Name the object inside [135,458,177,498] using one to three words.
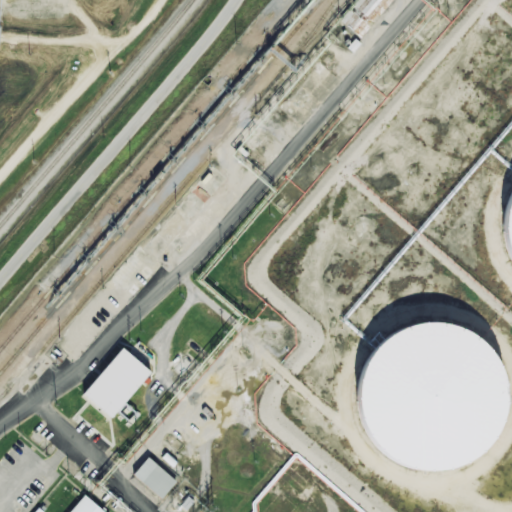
building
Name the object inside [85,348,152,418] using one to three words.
building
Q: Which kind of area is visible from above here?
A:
industrial area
